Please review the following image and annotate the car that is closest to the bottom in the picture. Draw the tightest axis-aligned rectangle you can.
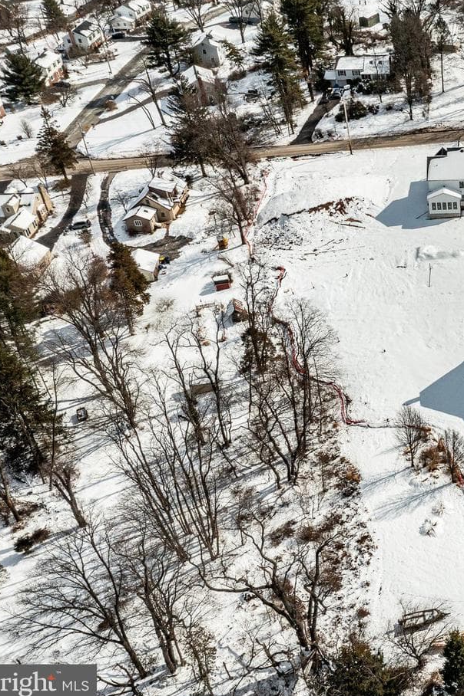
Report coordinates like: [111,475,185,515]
[65,218,95,232]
